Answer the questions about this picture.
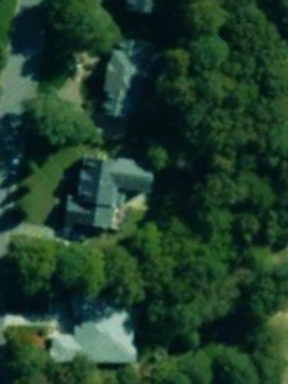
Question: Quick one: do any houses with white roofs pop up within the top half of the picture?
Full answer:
No, I see no house with a white roof within the top half of the picture.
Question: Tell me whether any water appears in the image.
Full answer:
No, there's no water in this view.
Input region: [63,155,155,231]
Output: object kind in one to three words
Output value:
house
